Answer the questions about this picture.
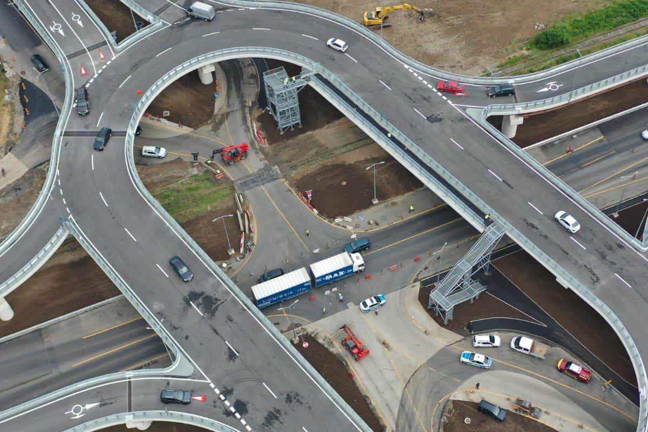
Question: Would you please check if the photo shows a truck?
Yes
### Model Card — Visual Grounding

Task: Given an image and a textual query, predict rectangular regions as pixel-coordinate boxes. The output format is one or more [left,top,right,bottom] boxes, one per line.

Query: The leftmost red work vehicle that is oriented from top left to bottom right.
[336,322,370,361]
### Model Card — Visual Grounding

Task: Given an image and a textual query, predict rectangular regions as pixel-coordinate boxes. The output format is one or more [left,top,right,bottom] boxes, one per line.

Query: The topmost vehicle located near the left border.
[29,53,50,72]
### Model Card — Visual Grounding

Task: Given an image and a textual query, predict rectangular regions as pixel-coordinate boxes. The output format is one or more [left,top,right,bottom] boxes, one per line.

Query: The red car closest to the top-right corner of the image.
[436,79,465,95]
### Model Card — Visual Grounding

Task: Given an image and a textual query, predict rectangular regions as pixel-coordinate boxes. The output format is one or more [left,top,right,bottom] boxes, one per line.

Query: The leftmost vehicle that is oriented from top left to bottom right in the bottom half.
[167,254,196,282]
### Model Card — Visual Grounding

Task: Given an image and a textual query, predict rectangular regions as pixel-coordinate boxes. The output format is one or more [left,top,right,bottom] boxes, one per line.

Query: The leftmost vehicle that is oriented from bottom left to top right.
[92,125,113,150]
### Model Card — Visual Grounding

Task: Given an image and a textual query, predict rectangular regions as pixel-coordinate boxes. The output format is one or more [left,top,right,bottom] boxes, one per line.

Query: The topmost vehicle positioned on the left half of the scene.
[188,2,215,21]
